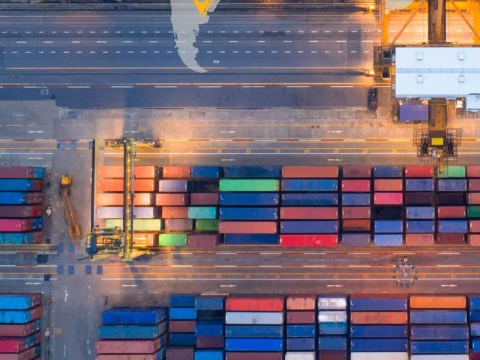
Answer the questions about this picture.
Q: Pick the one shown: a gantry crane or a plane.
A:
gantry crane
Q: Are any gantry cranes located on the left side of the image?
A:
Yes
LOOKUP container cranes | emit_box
[88,132,157,264]
[365,0,480,168]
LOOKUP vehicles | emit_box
[369,87,377,110]
[56,175,81,242]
